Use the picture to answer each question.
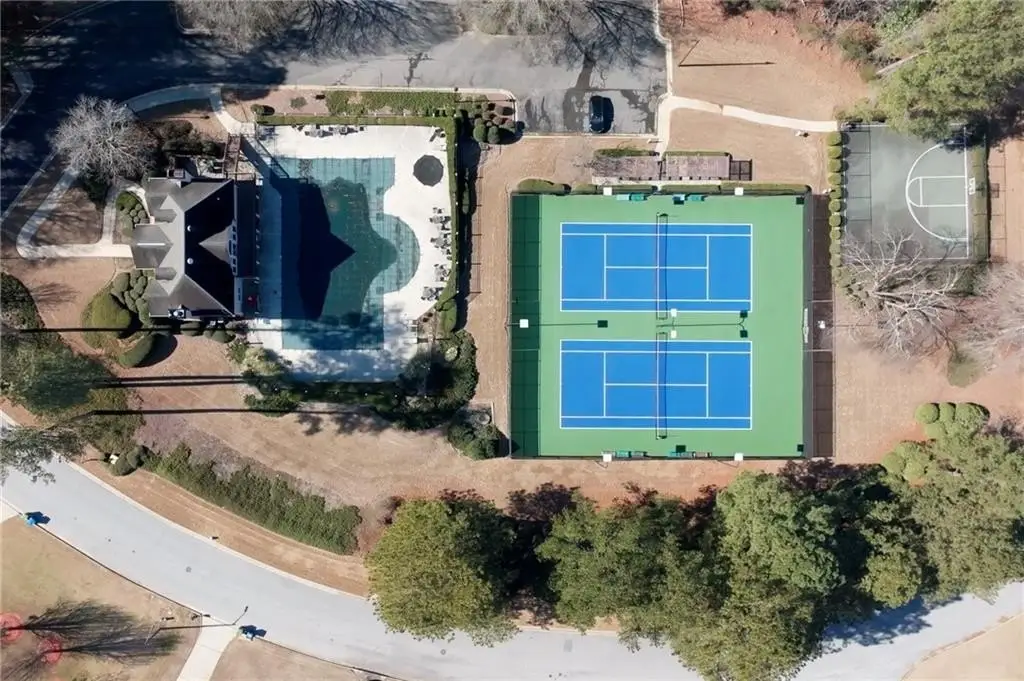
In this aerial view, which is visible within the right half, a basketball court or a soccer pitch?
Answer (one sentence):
There is a basketball court within the right half.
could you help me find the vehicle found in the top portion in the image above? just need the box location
[589,95,606,132]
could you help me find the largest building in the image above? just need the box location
[131,164,267,320]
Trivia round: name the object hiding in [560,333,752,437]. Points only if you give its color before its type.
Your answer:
blue tennis court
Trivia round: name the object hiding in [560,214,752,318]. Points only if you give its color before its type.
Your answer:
blue tennis court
